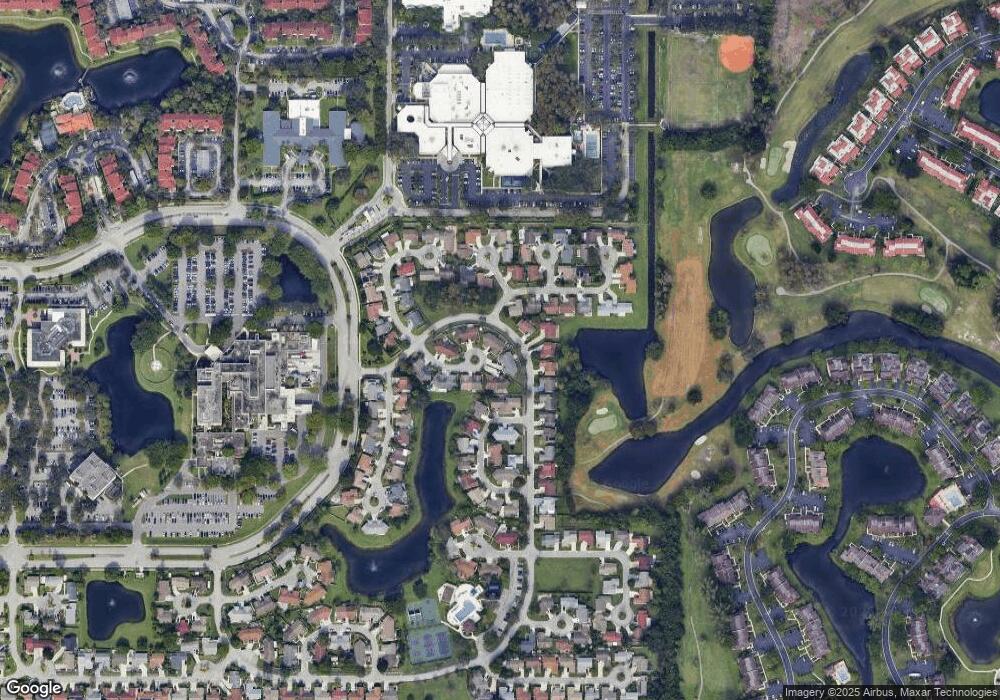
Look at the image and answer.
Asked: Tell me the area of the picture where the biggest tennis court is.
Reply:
bottom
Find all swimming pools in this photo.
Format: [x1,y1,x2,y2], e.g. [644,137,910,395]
[438,586,482,628]
[572,129,583,142]
[931,483,966,513]
[62,92,86,112]
[836,660,850,685]
[583,125,601,158]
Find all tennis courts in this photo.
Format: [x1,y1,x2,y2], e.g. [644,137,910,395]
[407,625,452,664]
[38,117,56,146]
[407,598,439,627]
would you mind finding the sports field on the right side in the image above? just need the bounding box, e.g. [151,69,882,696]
[668,33,754,126]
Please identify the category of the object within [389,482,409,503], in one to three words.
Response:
house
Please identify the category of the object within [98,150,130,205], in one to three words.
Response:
building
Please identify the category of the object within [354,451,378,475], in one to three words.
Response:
house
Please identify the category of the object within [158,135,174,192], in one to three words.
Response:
building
